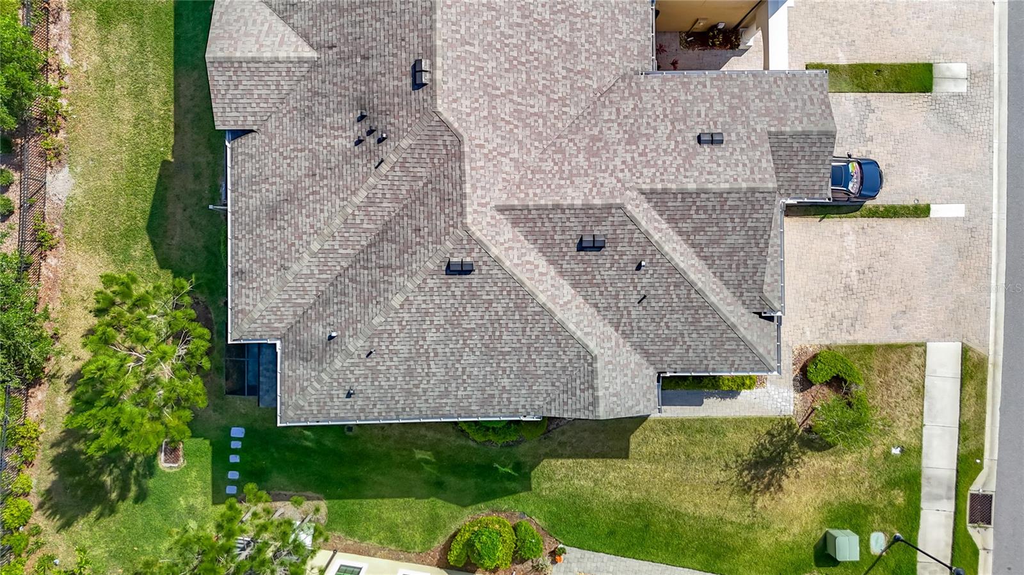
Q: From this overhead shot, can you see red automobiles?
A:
No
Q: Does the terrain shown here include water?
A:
No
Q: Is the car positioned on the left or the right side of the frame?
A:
right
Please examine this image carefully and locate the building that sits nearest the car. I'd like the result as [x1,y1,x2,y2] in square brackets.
[206,0,836,424]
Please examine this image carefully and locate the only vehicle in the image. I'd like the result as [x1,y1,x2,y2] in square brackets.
[830,150,886,205]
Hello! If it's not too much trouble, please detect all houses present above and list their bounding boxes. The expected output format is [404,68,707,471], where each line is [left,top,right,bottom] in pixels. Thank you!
[206,0,836,424]
[301,549,475,575]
